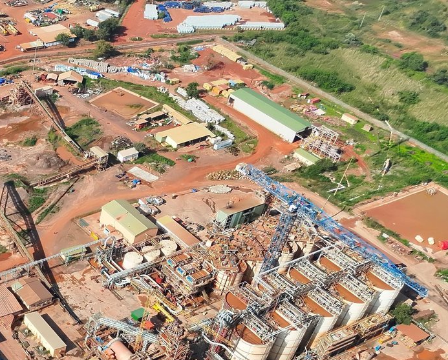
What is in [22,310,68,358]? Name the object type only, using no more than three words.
building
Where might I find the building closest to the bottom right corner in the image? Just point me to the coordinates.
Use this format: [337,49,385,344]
[400,326,435,348]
